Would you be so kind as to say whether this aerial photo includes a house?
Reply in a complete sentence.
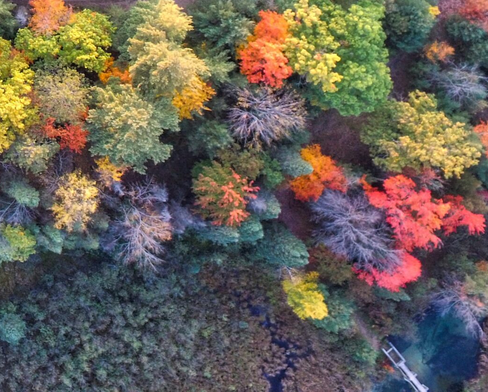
No, there isn't any house down there.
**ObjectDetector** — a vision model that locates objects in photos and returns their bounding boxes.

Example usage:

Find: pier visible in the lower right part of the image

[382,340,429,392]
